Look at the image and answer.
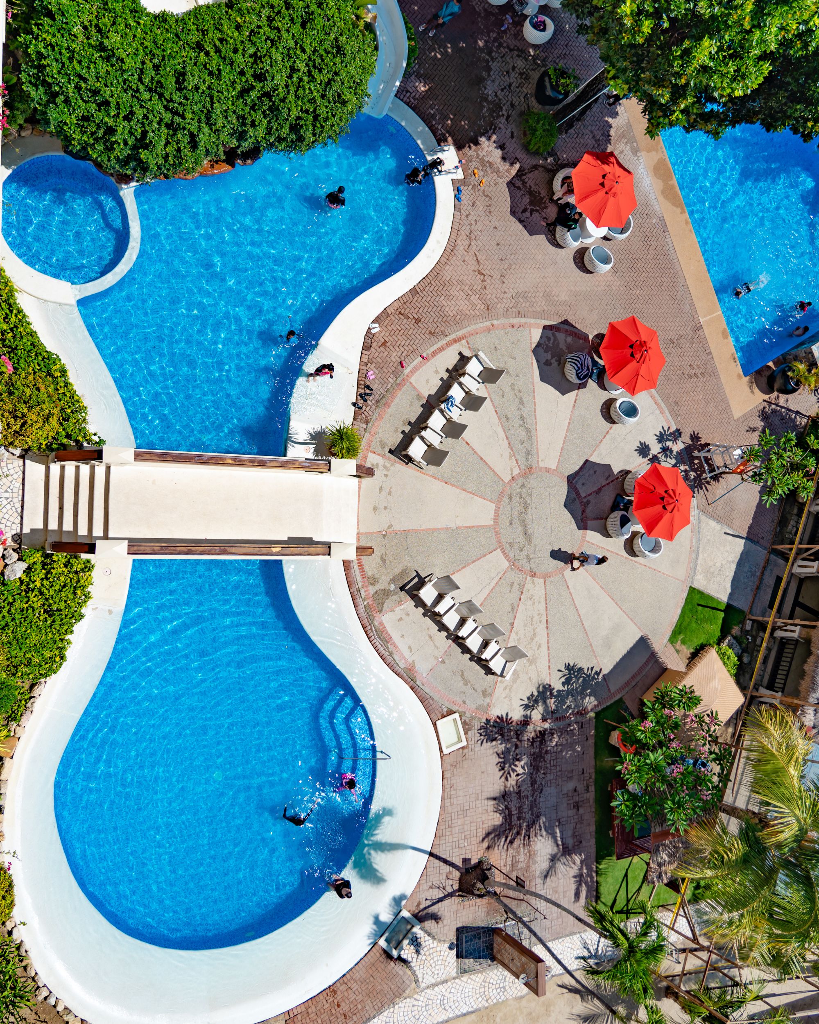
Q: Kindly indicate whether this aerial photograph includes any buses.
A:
No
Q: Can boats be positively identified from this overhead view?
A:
No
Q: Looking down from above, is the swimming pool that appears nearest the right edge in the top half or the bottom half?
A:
top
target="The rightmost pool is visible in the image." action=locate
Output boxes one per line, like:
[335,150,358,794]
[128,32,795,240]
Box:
[625,16,819,375]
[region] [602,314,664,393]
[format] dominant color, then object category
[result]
red umbrella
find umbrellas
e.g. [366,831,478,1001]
[602,314,664,393]
[632,463,693,541]
[570,153,635,232]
